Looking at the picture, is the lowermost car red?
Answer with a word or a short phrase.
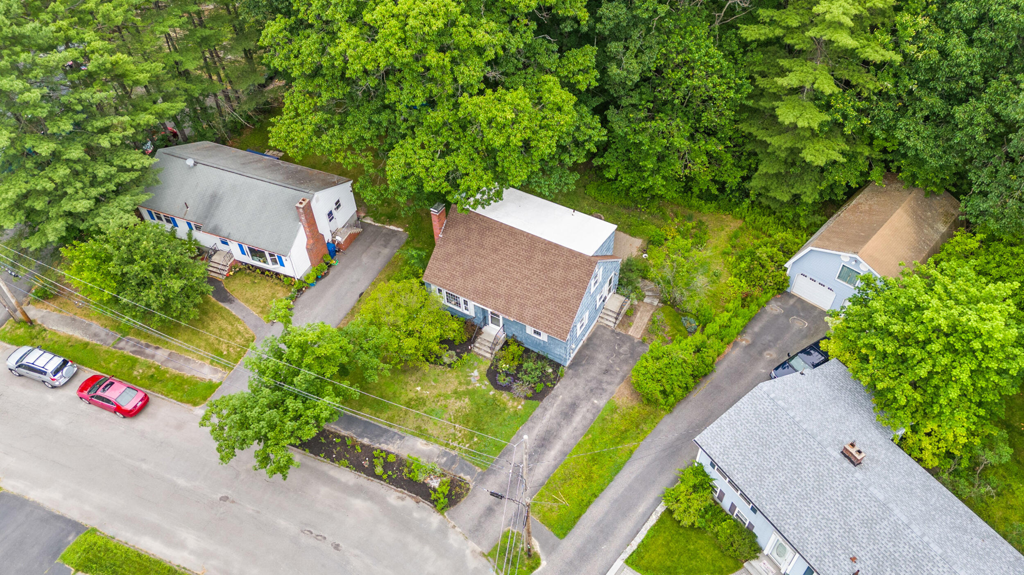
Yes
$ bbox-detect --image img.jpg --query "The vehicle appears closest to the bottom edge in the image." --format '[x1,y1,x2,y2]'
[74,375,152,421]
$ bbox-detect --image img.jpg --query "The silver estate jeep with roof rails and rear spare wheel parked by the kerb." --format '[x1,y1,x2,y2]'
[3,347,78,392]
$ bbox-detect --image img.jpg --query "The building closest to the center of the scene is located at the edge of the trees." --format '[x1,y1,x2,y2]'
[424,182,628,366]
